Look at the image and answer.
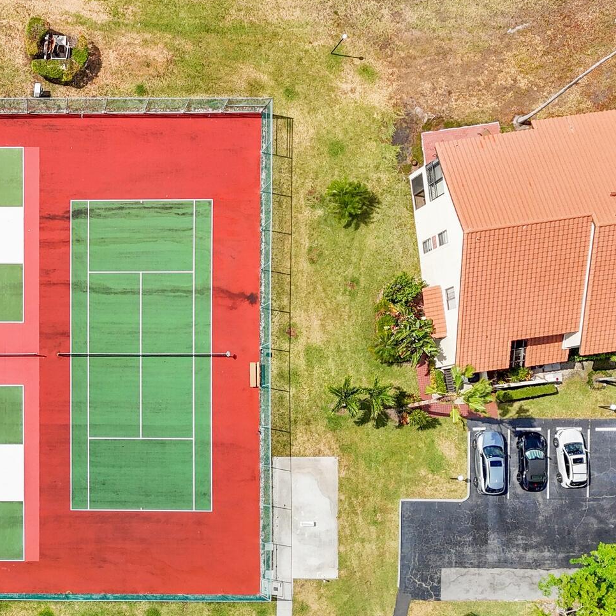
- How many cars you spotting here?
3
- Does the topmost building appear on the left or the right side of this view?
left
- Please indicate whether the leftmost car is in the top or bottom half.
bottom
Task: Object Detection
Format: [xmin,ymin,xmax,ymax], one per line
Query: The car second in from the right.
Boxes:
[519,433,551,490]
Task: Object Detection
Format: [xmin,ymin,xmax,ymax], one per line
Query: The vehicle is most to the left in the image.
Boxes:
[475,431,508,496]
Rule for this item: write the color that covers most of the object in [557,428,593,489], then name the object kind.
white car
